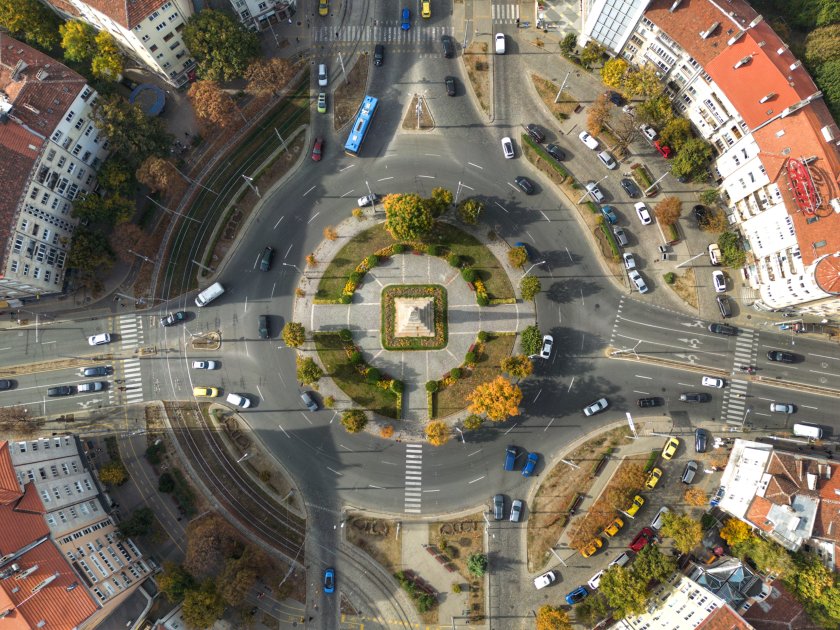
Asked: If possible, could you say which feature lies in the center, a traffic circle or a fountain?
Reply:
traffic circle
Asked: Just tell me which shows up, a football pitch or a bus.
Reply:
bus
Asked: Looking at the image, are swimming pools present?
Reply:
No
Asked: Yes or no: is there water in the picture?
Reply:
No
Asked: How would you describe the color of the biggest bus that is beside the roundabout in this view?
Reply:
blue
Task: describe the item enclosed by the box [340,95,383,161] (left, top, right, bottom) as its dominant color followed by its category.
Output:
blue bus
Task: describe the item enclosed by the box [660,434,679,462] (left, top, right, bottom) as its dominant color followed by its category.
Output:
yellow car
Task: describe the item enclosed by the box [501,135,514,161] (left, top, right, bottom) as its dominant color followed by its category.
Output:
white vehicle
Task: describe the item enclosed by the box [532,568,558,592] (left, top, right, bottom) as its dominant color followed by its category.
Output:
white vehicle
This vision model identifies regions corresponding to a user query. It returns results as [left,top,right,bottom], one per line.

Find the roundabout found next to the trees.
[212,128,618,530]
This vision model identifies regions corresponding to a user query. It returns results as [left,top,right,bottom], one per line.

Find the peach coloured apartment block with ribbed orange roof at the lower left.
[0,515,157,630]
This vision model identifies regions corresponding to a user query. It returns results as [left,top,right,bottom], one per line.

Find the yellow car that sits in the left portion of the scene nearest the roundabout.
[194,386,219,399]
